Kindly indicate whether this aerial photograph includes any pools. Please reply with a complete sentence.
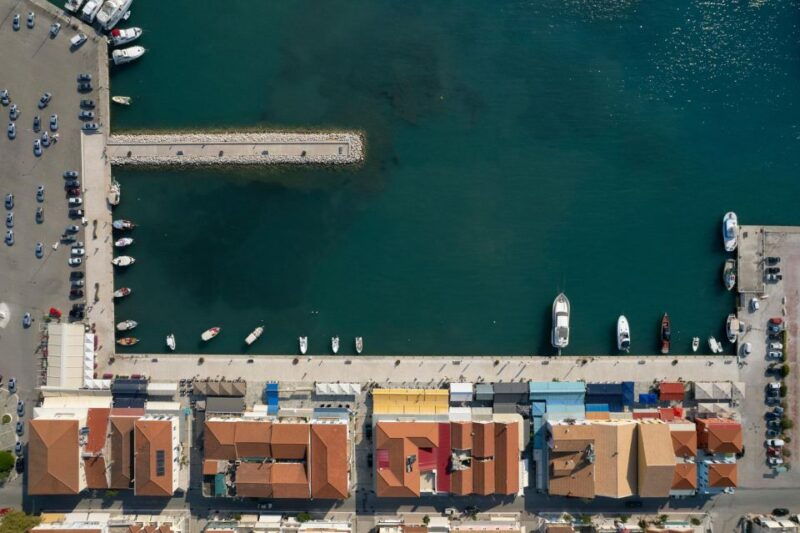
No, the photo shows no pool.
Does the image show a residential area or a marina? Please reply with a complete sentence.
It's a marina.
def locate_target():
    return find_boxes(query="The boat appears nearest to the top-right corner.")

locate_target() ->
[721,212,739,252]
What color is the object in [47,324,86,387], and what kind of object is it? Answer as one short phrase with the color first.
white tent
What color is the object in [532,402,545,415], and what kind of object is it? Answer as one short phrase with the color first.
blue umbrella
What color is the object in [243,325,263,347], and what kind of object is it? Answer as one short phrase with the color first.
white boat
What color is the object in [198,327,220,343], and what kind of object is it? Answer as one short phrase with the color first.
white boat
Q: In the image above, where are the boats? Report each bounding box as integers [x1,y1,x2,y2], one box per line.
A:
[166,333,175,350]
[721,212,739,252]
[109,46,147,65]
[112,97,132,103]
[110,220,134,231]
[299,334,306,353]
[113,238,134,246]
[705,334,717,352]
[114,320,139,332]
[78,0,102,27]
[722,259,736,292]
[114,288,132,296]
[724,313,740,343]
[332,334,339,353]
[243,325,263,347]
[113,255,137,266]
[108,177,121,206]
[94,0,131,34]
[616,315,630,356]
[198,327,220,343]
[692,335,698,351]
[122,9,130,20]
[61,0,86,17]
[550,293,570,357]
[105,27,144,48]
[659,312,670,353]
[115,336,140,345]
[355,334,362,353]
